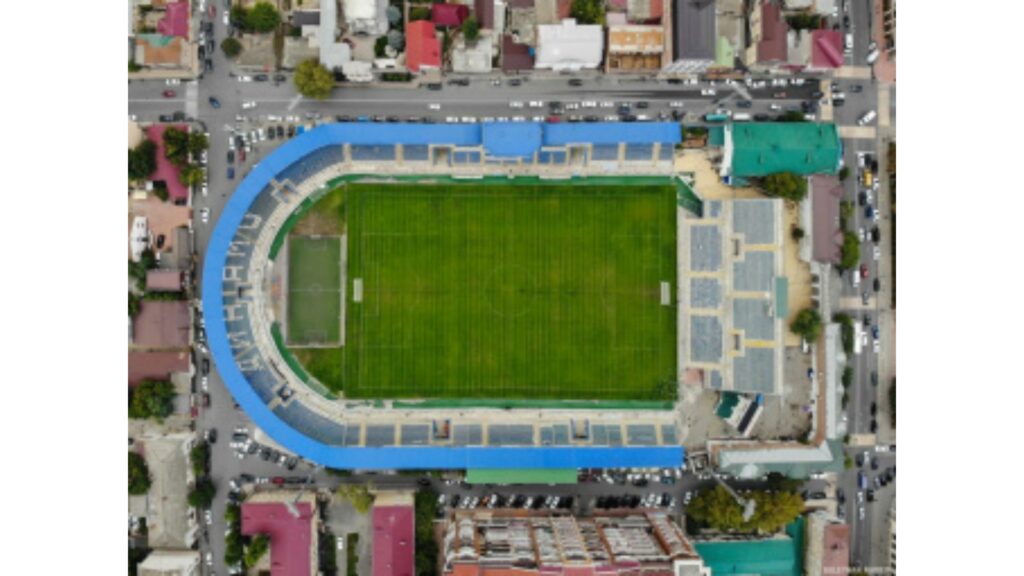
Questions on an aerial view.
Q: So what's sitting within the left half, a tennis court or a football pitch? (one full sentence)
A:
The one visible within the left half is a football pitch.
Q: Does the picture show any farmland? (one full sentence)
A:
No, farmland can't be seen anywhere here.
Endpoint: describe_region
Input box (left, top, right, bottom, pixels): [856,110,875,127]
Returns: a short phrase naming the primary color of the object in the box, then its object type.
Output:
white vehicle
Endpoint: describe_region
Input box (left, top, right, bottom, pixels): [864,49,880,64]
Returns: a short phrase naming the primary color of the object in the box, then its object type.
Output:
white vehicle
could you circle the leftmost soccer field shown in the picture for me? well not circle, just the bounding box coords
[283,234,343,348]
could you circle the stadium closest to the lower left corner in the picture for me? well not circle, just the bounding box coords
[203,122,683,484]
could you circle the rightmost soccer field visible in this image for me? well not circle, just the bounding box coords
[345,184,676,401]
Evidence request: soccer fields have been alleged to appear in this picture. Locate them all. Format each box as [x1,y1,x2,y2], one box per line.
[283,234,343,348]
[345,184,676,401]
